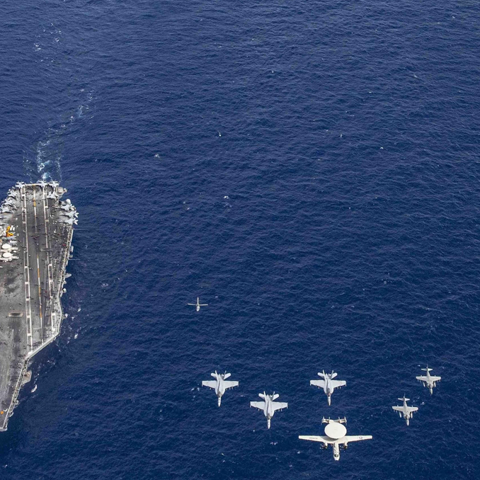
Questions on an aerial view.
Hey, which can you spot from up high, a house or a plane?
plane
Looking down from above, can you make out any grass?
No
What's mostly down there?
water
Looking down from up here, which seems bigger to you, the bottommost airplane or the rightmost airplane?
the bottommost airplane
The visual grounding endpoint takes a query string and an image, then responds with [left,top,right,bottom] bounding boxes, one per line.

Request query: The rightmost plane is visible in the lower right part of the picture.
[416,362,440,392]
